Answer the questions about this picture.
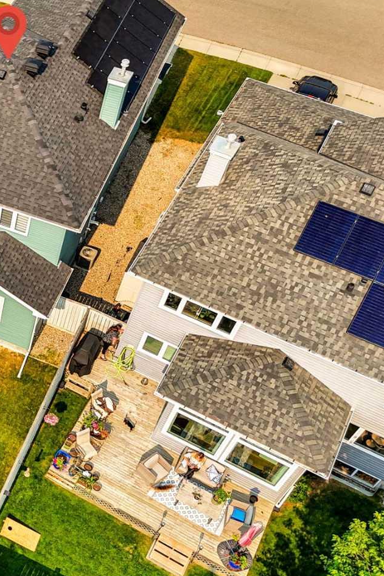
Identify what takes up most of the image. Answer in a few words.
buildings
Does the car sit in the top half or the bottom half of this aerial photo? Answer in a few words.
top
